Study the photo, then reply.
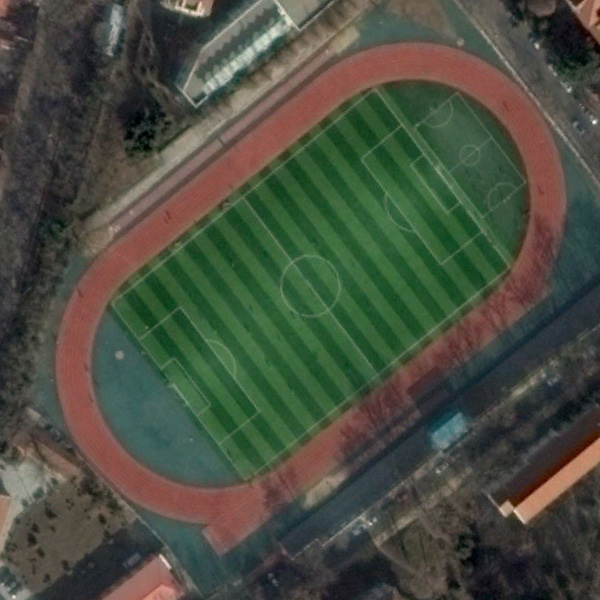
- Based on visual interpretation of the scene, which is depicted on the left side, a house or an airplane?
house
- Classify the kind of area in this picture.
sports ground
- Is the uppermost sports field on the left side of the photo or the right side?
right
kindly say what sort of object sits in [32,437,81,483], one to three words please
house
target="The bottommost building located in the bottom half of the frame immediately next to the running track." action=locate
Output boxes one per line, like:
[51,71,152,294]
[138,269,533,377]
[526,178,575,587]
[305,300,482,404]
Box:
[95,553,195,600]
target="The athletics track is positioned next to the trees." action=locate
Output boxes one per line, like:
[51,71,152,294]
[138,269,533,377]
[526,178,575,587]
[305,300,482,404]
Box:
[51,40,570,558]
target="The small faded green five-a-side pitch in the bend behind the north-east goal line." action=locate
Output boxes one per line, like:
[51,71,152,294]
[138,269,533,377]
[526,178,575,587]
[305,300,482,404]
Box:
[388,83,530,257]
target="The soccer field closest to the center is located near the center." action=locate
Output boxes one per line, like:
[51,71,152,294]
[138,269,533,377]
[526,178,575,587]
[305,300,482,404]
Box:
[107,86,515,481]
